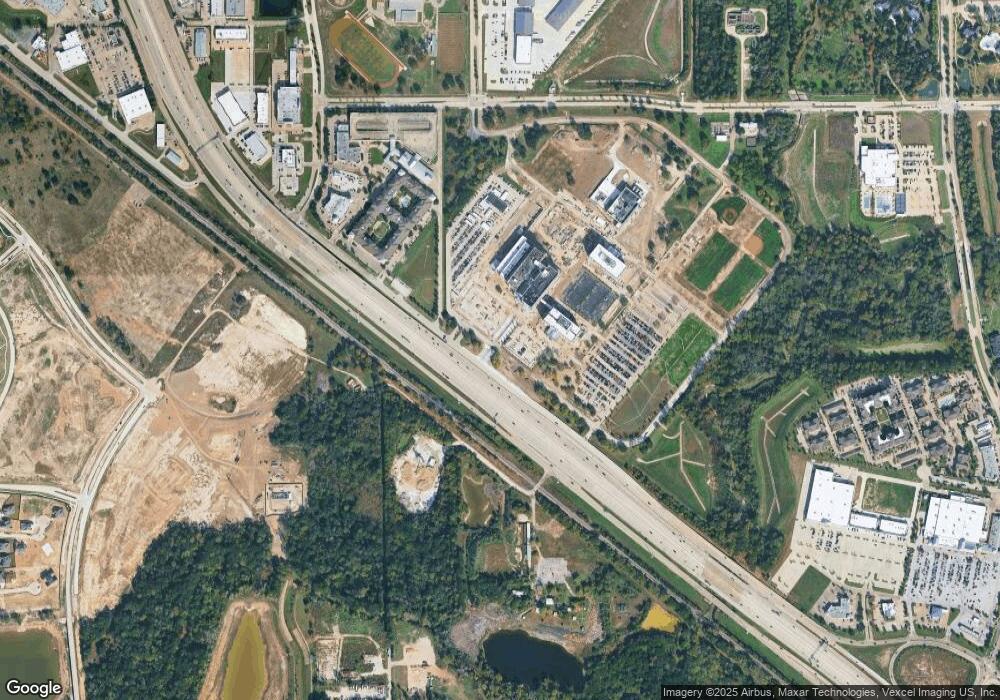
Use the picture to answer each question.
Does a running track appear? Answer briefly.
Yes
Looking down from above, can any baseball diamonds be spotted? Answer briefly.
Yes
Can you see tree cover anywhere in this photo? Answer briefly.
Yes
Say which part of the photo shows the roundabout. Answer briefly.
bottom right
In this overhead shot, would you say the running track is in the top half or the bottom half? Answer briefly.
top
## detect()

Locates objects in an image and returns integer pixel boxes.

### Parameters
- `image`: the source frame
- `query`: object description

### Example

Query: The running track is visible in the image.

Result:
[329,18,397,86]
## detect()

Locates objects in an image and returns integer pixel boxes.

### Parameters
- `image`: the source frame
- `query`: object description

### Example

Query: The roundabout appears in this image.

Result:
[889,640,979,700]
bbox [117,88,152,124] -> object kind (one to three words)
building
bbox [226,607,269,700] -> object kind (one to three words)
pond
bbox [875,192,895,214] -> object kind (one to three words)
swimming pool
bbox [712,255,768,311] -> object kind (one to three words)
sports field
